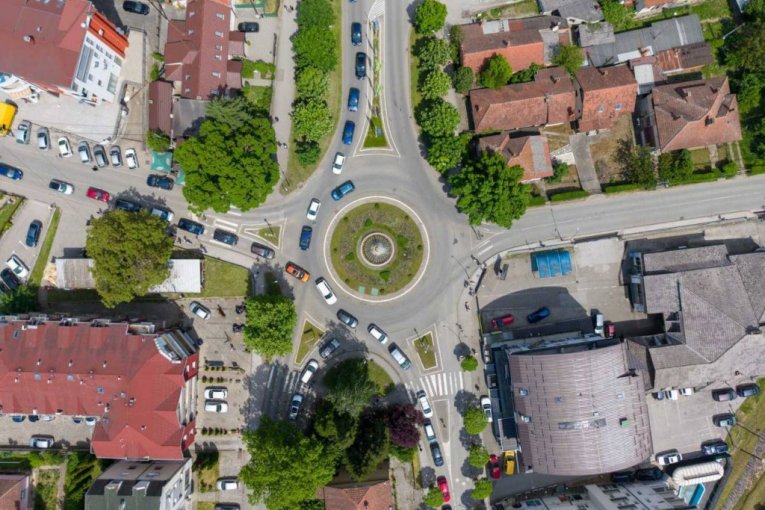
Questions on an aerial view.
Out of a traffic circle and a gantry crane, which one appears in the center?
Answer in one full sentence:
There is a traffic circle in the center.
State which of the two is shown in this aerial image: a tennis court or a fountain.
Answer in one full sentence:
I can see a fountain in this picture.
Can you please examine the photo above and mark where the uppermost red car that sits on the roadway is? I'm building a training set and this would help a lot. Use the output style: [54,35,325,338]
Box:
[86,188,111,202]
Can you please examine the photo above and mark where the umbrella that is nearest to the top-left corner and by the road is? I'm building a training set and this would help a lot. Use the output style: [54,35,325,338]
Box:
[151,152,173,172]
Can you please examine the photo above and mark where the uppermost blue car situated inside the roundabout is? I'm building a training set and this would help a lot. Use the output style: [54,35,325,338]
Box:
[332,182,355,199]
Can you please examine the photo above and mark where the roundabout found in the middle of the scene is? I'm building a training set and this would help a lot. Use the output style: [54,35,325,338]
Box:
[281,153,473,345]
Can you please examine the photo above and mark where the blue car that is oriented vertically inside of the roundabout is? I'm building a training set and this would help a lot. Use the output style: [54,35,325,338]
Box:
[300,225,312,250]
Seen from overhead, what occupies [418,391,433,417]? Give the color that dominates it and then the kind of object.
white car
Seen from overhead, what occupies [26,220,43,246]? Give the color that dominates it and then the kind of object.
blue car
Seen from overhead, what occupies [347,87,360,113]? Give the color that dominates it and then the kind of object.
blue vehicle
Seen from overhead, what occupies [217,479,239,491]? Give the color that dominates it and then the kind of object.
white vehicle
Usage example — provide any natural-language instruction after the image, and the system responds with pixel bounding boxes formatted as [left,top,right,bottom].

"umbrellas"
[151,152,173,172]
[172,172,186,186]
